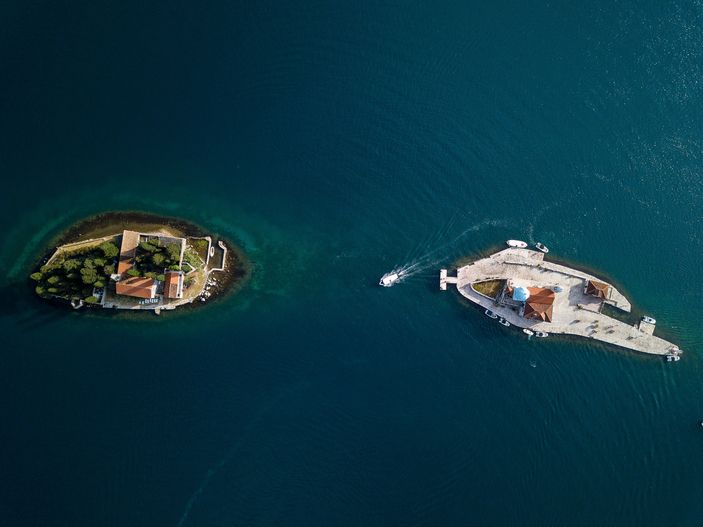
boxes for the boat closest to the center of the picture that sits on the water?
[380,272,400,285]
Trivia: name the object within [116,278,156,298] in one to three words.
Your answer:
house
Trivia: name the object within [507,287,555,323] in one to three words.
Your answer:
building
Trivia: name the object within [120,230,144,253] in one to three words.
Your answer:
house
